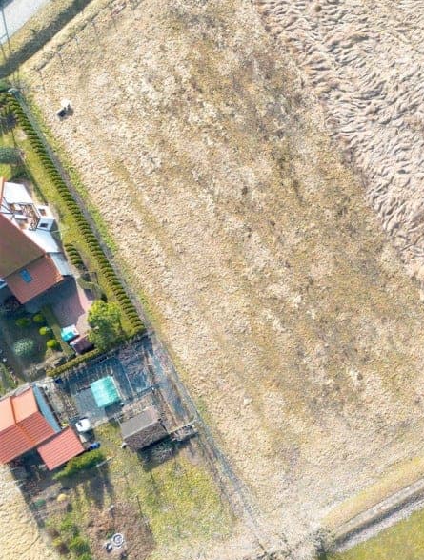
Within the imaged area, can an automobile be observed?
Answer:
No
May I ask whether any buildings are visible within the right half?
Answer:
No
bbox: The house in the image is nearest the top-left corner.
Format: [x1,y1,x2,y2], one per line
[0,169,87,303]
